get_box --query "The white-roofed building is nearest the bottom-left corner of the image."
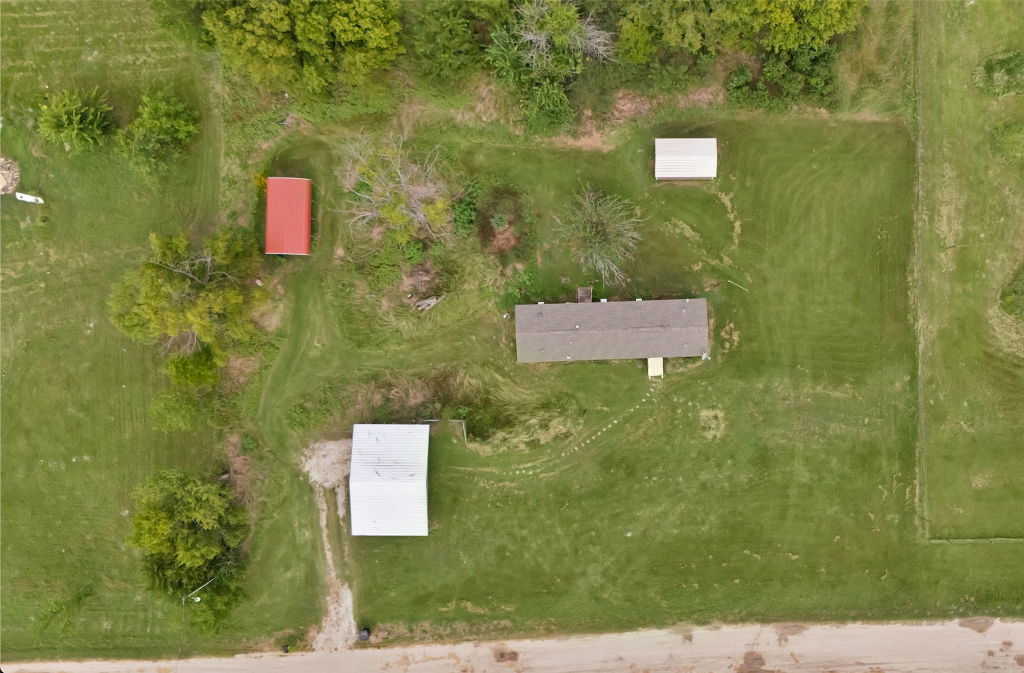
[349,423,430,536]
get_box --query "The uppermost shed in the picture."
[651,138,718,183]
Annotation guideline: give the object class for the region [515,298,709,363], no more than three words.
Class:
house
